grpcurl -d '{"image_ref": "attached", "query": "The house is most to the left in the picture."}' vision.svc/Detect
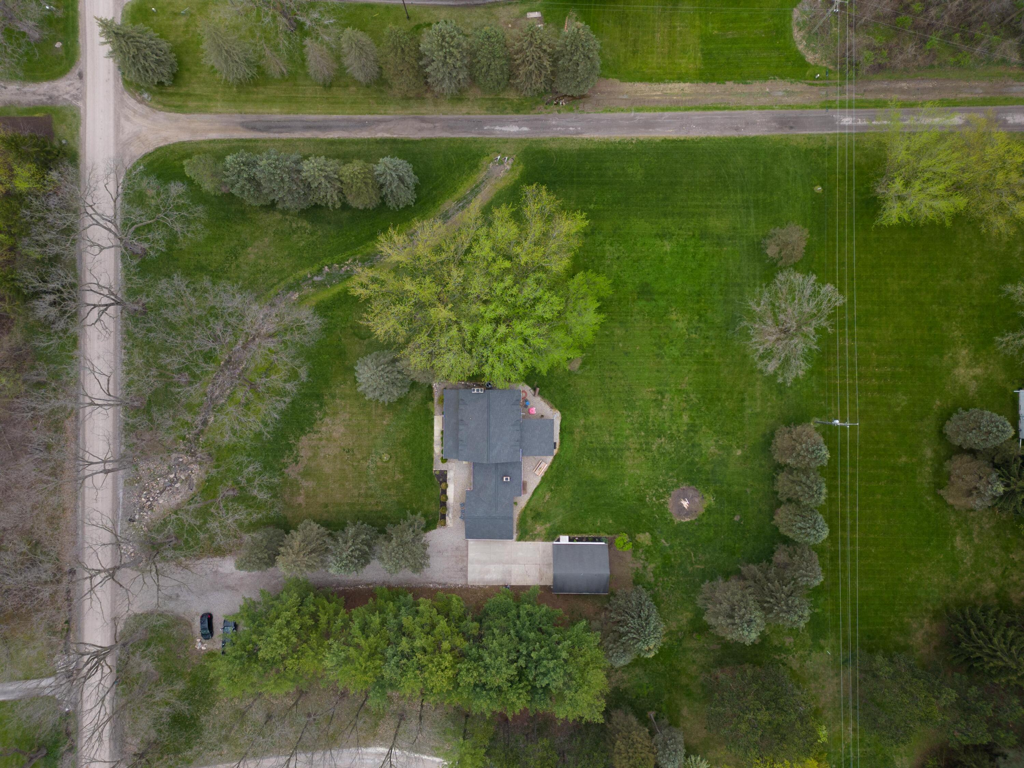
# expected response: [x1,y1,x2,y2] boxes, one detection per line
[443,388,554,540]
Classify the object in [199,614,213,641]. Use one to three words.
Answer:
car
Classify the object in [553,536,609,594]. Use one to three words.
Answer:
shed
